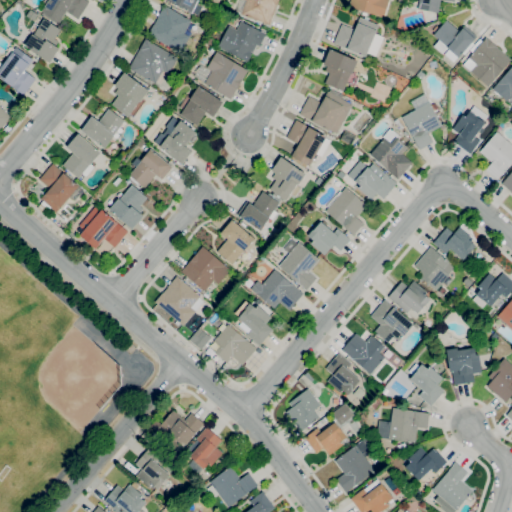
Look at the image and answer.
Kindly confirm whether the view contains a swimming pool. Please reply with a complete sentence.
Yes, there is a swimming pool in the image.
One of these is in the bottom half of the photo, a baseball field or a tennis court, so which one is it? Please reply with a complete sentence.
Looking in the bottom half of the photo, you will find a baseball field.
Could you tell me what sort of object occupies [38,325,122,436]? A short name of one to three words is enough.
baseball field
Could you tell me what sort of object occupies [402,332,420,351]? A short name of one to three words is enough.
swimming pool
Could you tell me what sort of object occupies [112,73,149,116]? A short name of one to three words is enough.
house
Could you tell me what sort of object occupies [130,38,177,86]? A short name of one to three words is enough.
house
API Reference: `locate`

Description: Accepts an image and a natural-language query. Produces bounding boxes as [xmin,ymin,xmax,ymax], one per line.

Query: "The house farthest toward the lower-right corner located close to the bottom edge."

[433,463,475,512]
